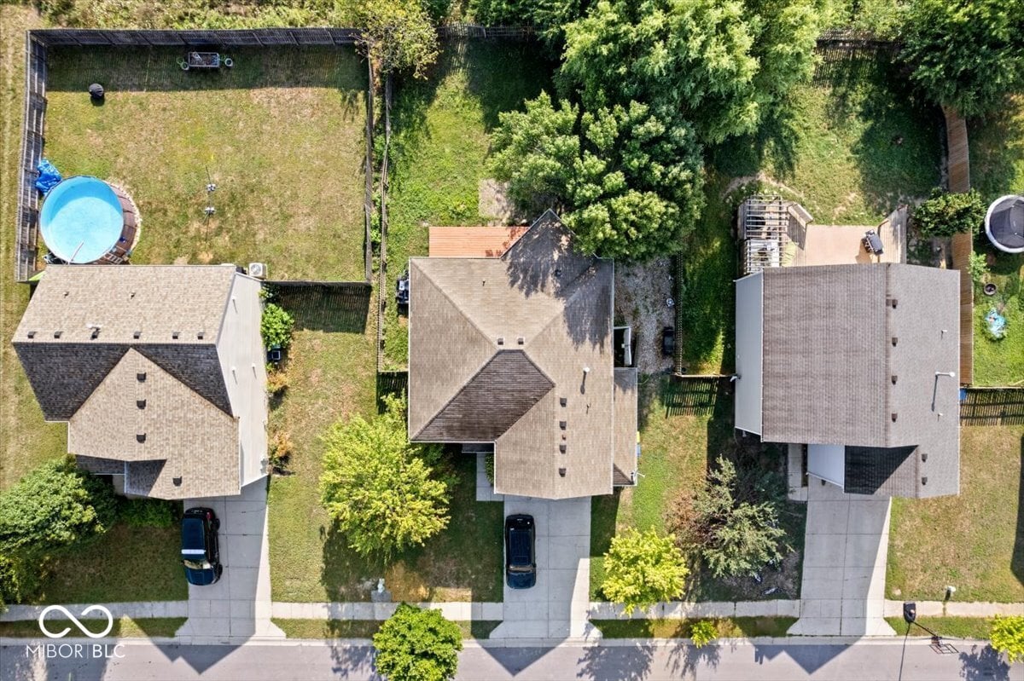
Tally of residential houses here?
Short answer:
3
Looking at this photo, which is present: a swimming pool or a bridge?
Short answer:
swimming pool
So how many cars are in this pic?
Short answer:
2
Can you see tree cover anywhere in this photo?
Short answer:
Yes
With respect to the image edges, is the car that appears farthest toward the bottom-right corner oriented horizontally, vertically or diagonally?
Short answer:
vertically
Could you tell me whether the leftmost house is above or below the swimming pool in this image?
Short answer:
below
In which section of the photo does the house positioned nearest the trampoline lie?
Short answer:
right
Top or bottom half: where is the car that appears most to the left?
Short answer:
bottom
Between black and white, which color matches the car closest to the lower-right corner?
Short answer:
black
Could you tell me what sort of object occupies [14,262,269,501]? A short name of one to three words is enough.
house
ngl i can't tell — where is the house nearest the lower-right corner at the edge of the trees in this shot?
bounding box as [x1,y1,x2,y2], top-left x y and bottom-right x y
[723,263,961,502]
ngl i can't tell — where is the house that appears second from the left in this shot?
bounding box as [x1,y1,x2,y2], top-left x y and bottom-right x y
[407,209,639,501]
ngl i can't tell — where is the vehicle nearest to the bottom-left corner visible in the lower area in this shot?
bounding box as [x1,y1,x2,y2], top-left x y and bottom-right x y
[178,506,221,586]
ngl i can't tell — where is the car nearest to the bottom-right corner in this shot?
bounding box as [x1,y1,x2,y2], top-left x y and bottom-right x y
[501,511,540,591]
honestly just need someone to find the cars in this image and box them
[178,506,221,586]
[501,511,540,591]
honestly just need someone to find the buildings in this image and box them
[407,209,639,501]
[14,262,269,501]
[723,263,961,502]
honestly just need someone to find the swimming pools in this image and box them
[40,177,137,262]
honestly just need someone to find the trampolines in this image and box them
[976,193,1024,255]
